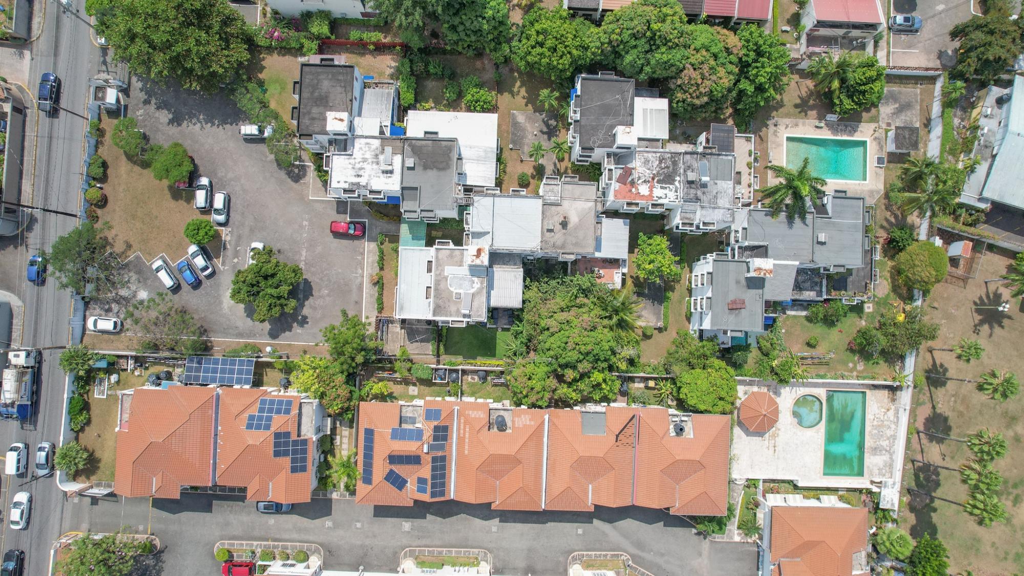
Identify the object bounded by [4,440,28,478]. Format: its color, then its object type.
white car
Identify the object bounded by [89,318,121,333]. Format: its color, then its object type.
white car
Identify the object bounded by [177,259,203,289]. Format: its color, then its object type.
blue car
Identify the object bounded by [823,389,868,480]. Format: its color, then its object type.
green swimming pool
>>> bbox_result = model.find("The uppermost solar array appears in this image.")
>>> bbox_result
[184,356,261,385]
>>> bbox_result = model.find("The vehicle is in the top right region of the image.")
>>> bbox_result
[886,15,922,33]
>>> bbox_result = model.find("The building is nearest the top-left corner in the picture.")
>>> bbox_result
[0,91,30,120]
